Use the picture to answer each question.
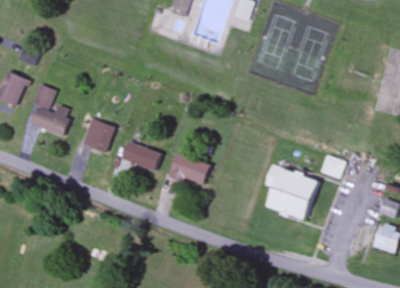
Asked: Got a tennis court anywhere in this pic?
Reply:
Yes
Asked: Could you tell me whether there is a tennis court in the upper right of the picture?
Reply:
Yes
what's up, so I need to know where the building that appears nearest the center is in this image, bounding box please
[169,154,210,184]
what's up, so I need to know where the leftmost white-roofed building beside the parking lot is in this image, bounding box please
[265,165,320,222]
